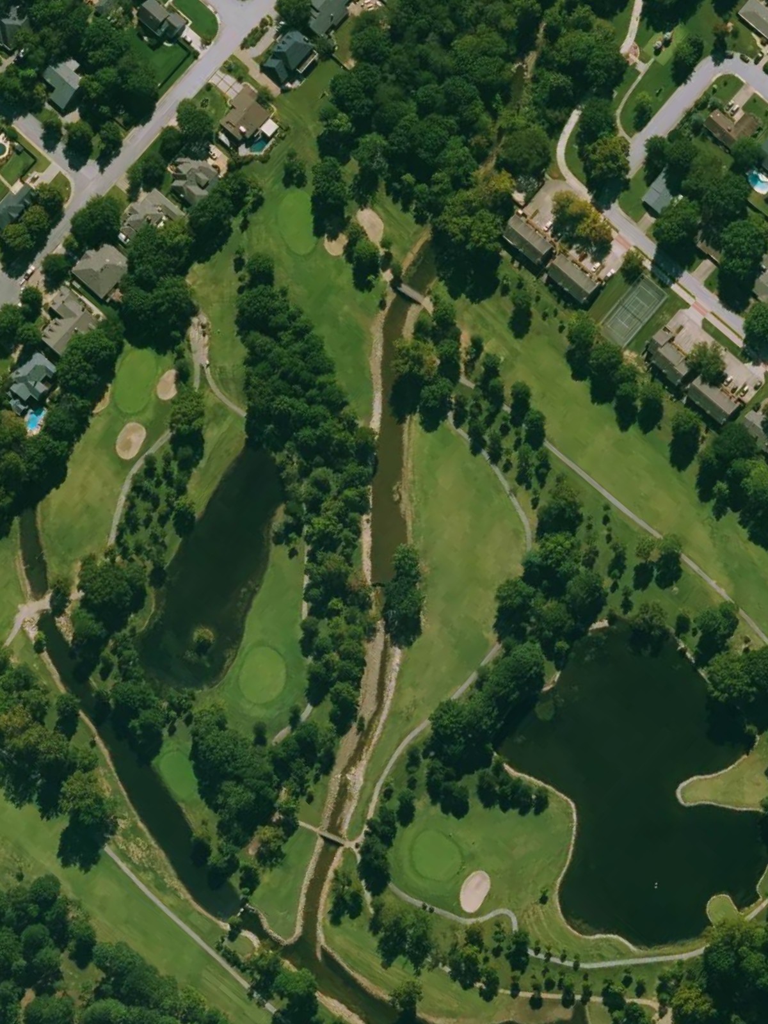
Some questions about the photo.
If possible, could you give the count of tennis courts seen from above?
one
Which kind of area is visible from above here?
golf course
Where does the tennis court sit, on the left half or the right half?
right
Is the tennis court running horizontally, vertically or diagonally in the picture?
diagonally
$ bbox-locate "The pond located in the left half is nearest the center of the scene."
[136,440,283,693]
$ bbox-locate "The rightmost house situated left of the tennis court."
[546,254,601,304]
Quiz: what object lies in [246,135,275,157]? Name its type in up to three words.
swimming pool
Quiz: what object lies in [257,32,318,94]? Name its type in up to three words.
house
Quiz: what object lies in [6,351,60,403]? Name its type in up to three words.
house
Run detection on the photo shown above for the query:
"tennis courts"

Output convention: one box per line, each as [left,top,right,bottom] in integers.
[598,273,670,348]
